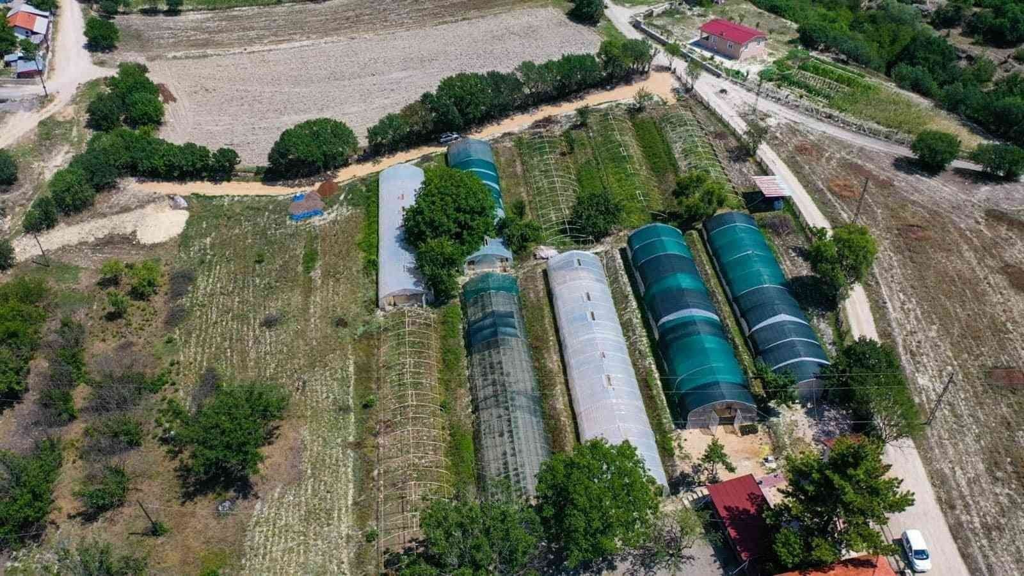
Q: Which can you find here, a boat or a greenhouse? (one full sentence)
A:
I can see a greenhouse in this picture.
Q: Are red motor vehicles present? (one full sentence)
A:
No, the frame has no red motor vehicle in it.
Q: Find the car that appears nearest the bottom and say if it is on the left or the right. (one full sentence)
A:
The car that appears nearest the bottom sits on the right side.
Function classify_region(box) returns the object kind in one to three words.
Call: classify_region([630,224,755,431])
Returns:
greenhouse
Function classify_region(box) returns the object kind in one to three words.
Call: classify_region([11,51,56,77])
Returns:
shed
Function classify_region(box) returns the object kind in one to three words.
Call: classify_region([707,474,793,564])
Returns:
shed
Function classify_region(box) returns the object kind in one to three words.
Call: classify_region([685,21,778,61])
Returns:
house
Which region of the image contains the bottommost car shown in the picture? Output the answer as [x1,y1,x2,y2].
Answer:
[899,529,937,575]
